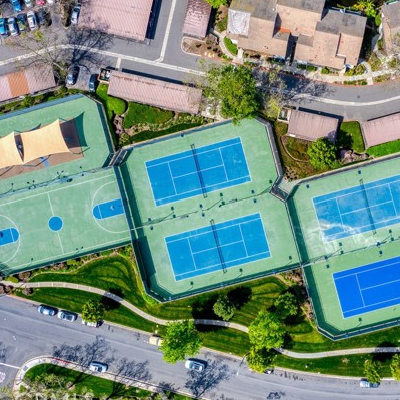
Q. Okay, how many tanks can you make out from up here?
0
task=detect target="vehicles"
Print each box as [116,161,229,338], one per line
[0,17,10,38]
[186,358,206,371]
[10,0,24,12]
[67,64,81,86]
[23,0,34,11]
[35,0,46,9]
[359,378,379,388]
[26,10,39,31]
[16,12,29,34]
[36,8,49,29]
[70,6,81,25]
[46,0,57,7]
[7,17,20,38]
[88,73,99,94]
[58,310,76,321]
[89,360,110,372]
[36,304,57,316]
[80,316,101,328]
[146,334,168,348]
